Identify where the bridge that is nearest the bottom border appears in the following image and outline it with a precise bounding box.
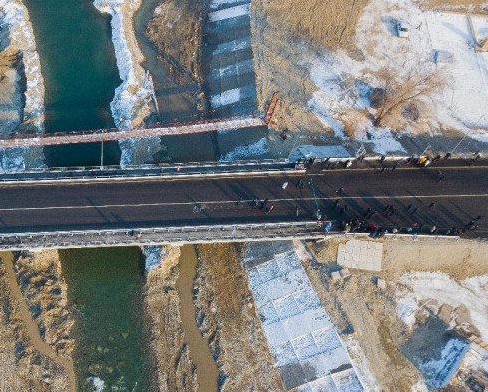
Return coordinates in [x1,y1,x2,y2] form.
[0,160,332,252]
